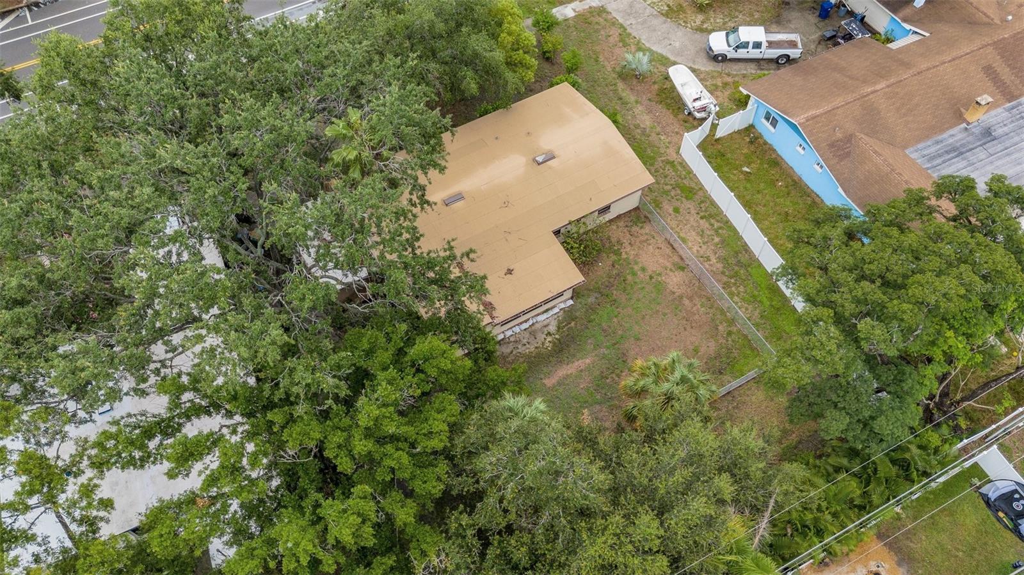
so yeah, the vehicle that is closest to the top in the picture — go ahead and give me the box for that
[703,24,802,64]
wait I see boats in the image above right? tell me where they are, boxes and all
[670,59,725,122]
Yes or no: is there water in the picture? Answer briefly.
No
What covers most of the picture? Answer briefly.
trees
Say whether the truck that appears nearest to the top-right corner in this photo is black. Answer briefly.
No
